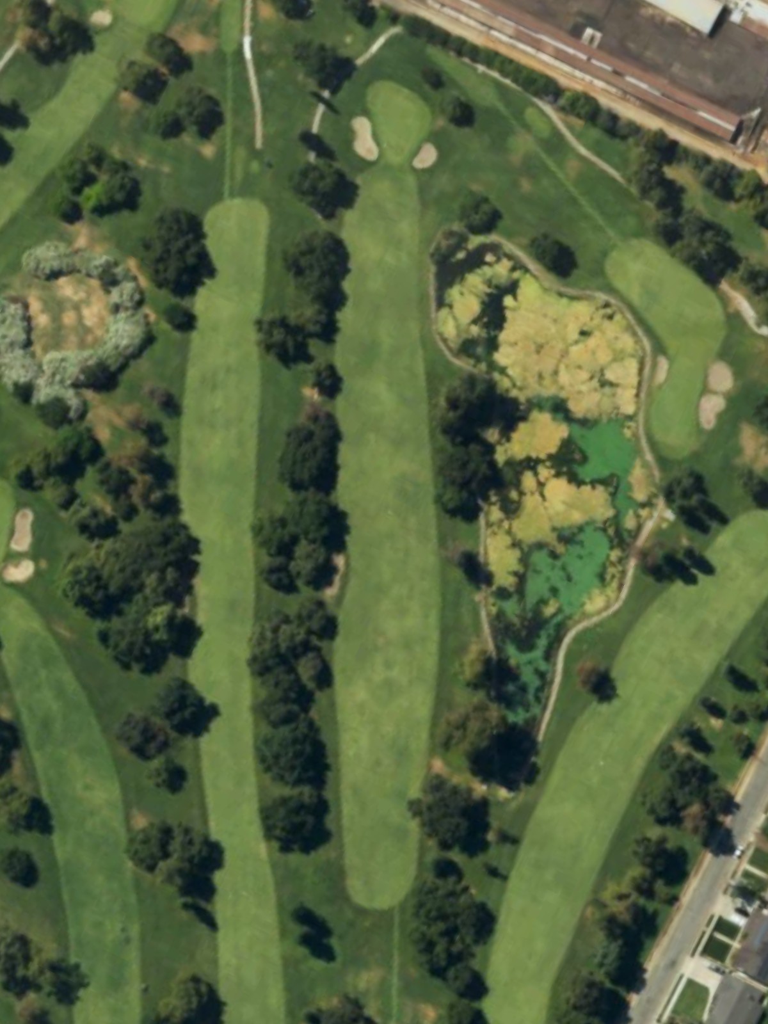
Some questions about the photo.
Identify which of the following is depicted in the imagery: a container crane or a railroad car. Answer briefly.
railroad car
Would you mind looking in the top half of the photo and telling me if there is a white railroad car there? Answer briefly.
Yes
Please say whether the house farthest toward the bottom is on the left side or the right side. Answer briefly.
right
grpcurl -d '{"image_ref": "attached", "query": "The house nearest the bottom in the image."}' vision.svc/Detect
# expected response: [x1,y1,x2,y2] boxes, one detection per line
[702,974,765,1024]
